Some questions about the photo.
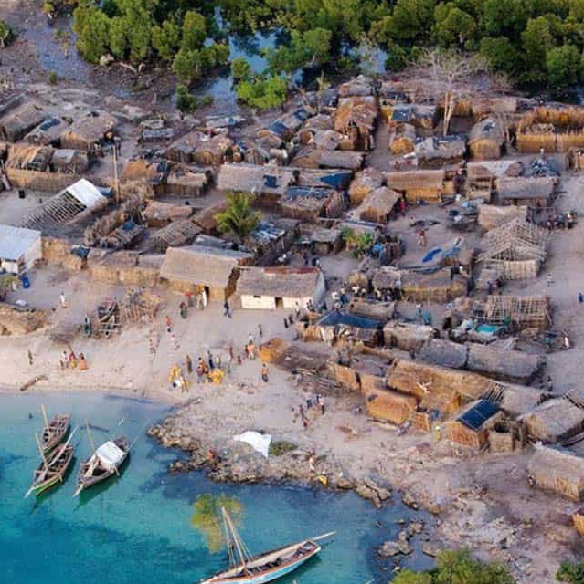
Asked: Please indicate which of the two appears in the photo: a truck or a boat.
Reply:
boat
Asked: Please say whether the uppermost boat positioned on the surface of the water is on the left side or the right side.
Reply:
left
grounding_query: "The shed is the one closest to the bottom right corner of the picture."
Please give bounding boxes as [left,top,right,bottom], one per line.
[525,424,584,507]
